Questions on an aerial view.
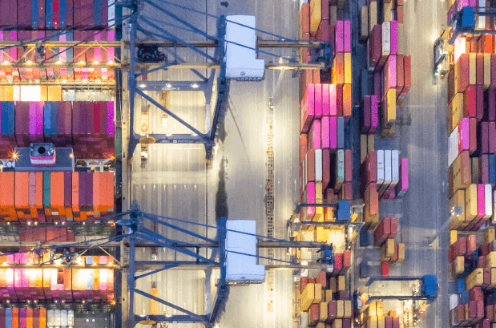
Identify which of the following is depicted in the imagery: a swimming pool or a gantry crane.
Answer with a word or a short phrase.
gantry crane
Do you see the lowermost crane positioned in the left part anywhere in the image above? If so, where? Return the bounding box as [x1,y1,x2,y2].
[0,195,334,328]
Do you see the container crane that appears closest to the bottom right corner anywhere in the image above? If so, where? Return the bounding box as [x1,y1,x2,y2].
[349,273,442,325]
